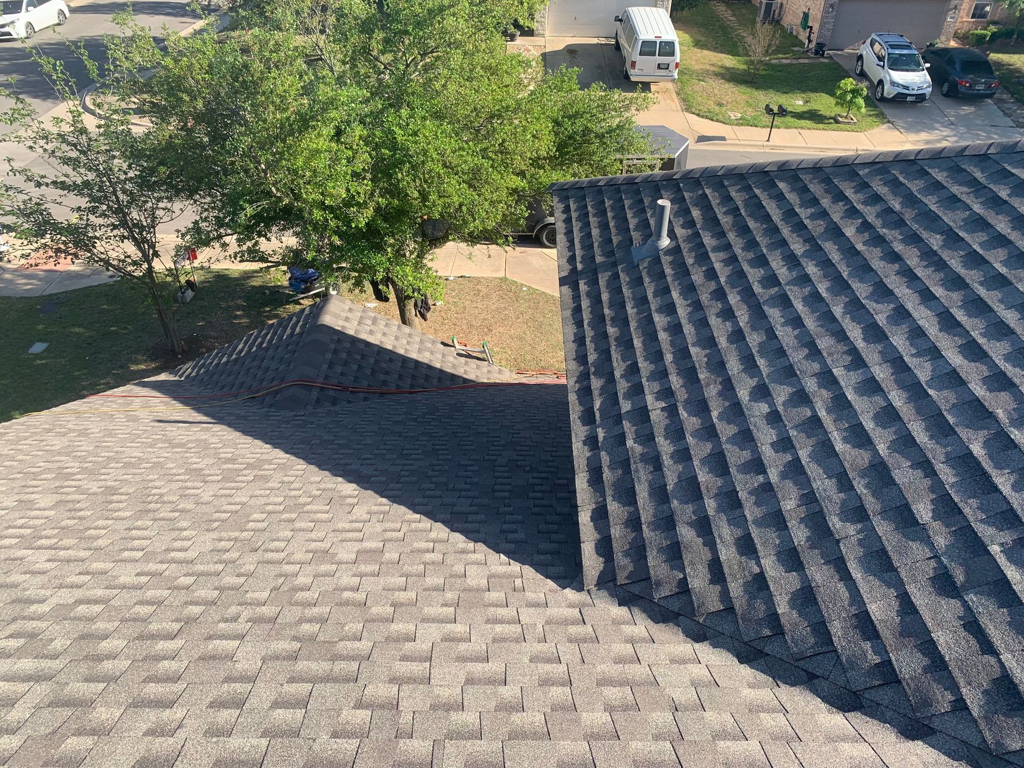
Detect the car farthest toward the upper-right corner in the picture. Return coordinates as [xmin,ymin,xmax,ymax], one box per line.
[927,44,1014,98]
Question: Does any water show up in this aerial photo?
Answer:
No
